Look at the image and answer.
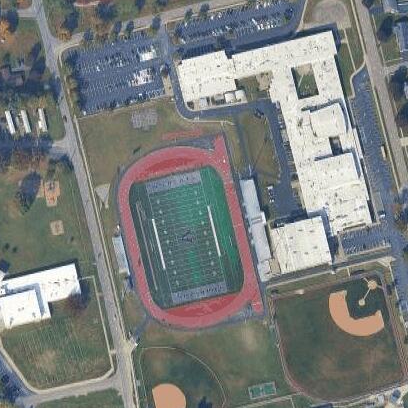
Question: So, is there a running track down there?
Yes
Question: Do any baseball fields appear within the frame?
Yes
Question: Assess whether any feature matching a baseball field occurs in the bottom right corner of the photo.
Yes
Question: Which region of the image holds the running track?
center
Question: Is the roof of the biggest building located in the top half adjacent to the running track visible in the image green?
No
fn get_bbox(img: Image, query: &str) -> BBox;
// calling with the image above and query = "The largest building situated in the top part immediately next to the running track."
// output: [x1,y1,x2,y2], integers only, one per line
[178,30,372,276]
